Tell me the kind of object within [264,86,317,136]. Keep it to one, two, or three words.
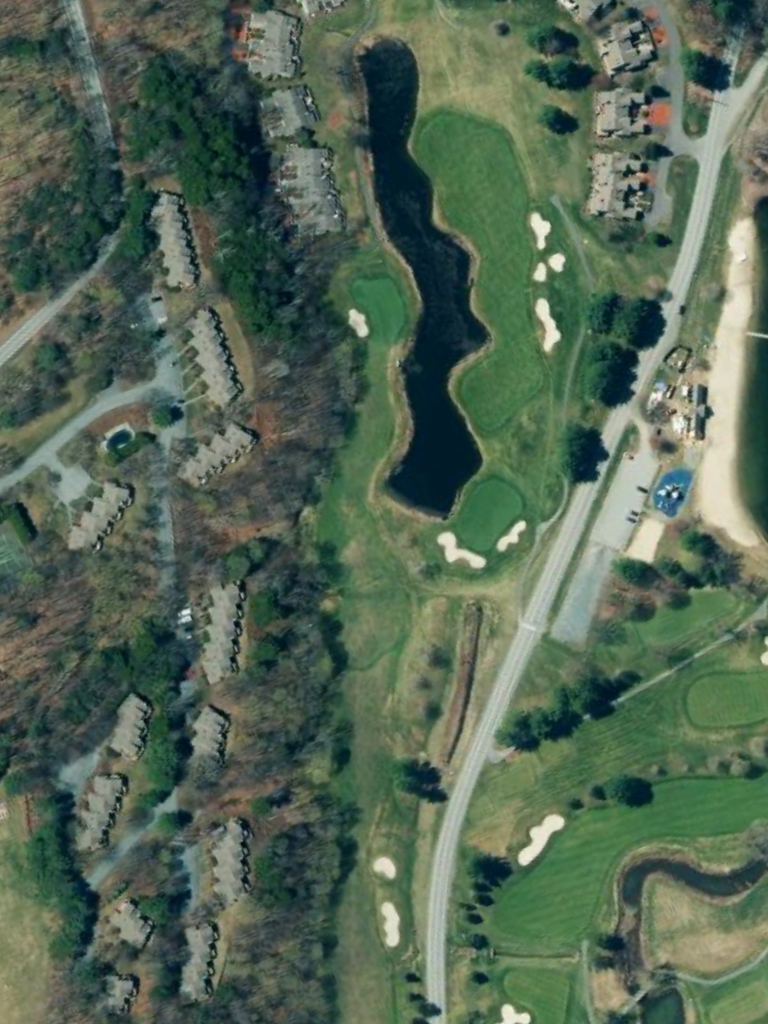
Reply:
house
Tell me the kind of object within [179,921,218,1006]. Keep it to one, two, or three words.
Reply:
house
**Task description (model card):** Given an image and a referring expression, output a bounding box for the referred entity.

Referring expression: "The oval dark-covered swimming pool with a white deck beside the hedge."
[100,422,137,454]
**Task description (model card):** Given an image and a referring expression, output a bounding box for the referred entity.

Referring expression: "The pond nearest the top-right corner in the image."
[361,41,492,516]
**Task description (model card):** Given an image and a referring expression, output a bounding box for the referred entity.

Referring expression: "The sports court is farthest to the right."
[626,515,665,565]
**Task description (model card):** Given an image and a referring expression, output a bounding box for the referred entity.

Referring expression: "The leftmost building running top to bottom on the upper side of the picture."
[155,188,200,290]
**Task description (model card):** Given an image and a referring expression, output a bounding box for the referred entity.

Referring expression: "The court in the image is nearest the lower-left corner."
[0,519,36,598]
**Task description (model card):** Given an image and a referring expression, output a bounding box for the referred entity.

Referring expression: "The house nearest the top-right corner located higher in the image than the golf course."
[610,15,659,77]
